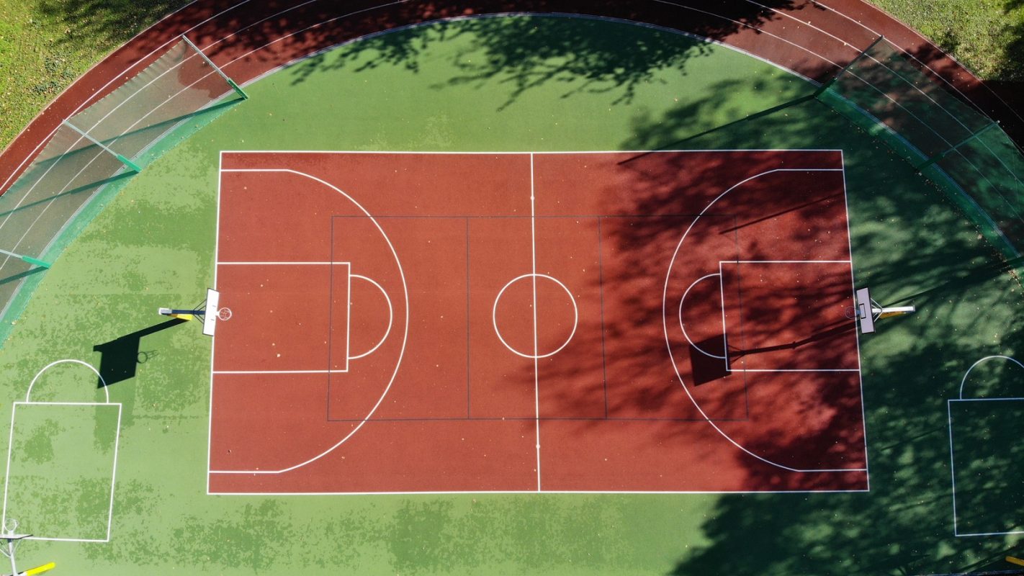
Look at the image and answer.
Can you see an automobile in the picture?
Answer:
No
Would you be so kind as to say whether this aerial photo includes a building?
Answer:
No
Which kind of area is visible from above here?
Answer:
sports ground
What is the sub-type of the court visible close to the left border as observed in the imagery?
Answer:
basketball court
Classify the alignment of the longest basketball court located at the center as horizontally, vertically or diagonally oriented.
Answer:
horizontally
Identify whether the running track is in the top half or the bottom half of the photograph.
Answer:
top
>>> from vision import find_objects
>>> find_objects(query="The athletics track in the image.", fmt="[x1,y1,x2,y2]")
[0,0,1024,321]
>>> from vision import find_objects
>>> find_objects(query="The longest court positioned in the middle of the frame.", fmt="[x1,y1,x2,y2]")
[207,150,870,495]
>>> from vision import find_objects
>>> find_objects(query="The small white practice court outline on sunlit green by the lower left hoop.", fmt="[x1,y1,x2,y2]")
[1,361,121,542]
